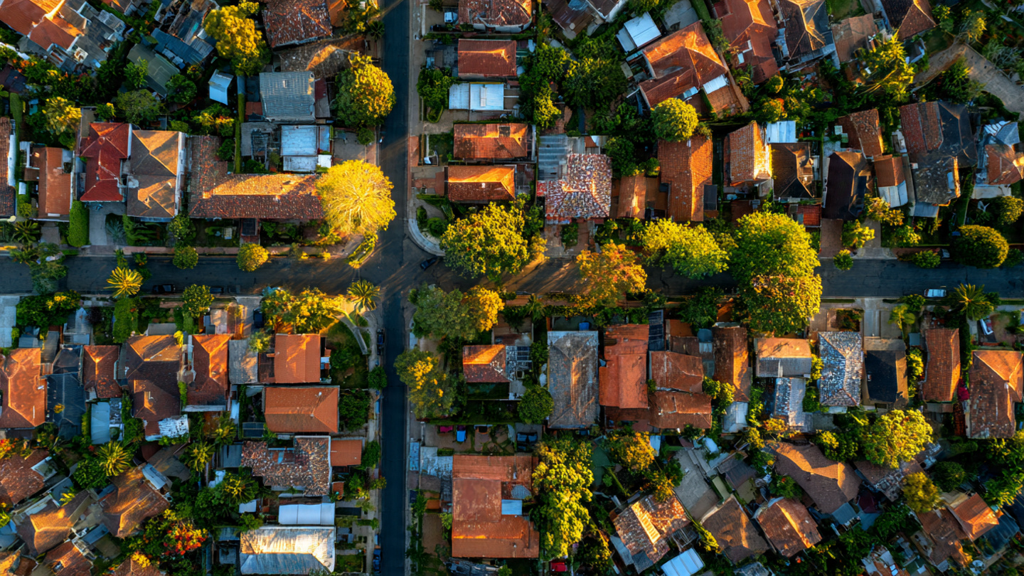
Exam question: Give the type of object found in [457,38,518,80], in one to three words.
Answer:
house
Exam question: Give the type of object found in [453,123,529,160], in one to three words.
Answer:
house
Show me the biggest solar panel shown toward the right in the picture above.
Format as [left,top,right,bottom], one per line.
[650,310,664,351]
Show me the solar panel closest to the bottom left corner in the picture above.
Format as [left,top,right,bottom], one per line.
[243,424,263,438]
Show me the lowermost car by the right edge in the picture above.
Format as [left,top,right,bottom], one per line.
[976,318,991,337]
